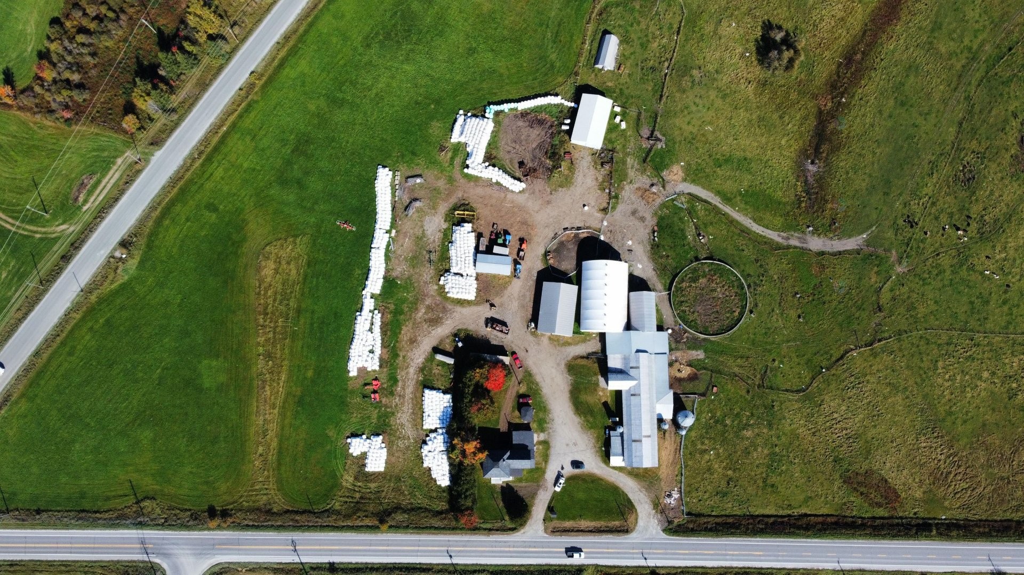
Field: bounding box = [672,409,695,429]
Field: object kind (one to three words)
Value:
silo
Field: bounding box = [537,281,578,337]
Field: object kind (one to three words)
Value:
barn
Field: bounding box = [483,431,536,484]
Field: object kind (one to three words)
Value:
house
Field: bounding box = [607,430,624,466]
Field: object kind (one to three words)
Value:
building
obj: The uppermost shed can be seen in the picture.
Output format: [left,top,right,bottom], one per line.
[596,34,621,73]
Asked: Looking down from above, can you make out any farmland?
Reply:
Yes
